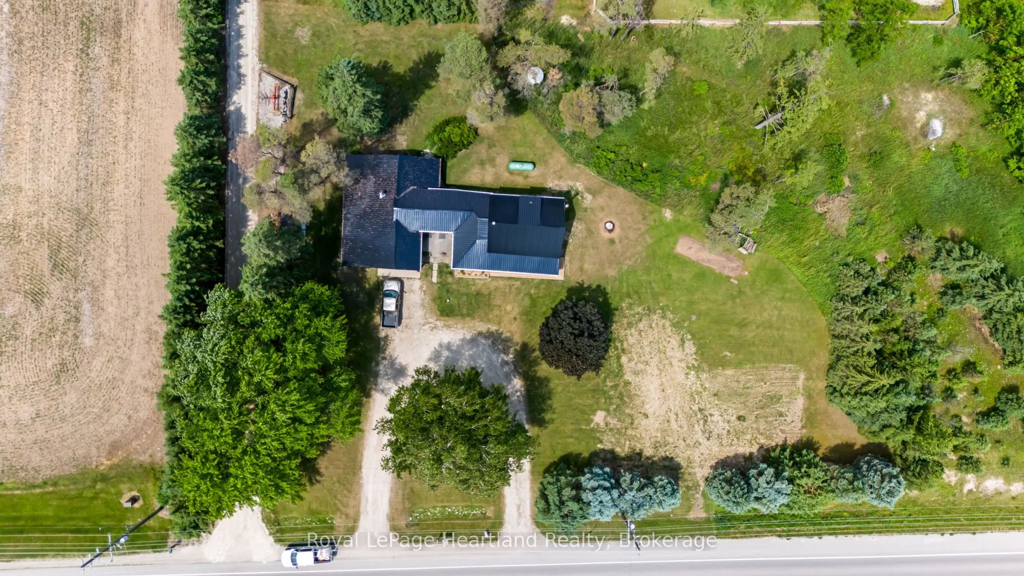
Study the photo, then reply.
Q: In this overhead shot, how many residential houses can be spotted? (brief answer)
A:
1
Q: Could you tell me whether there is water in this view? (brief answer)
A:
No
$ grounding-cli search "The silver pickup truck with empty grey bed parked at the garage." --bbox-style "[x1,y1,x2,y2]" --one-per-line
[382,278,403,329]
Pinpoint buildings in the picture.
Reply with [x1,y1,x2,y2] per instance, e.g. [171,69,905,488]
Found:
[341,154,565,277]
